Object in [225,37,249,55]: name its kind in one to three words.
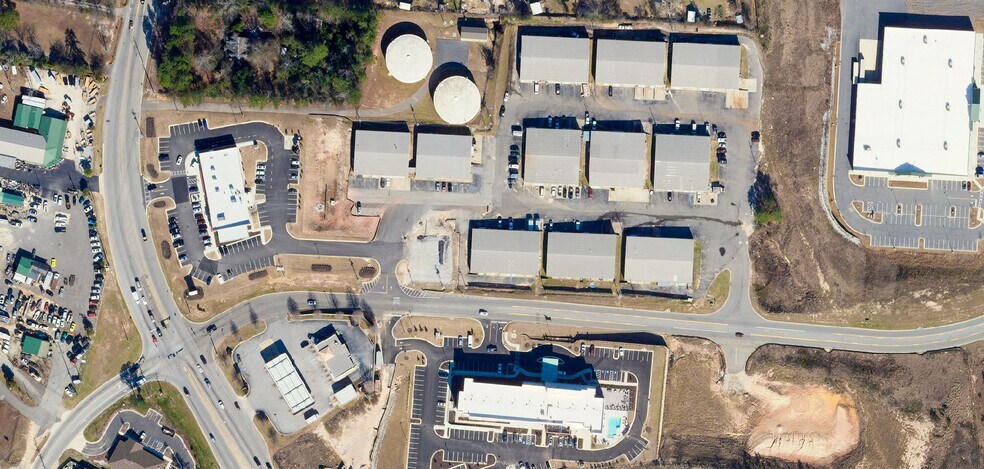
house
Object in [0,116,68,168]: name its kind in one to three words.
building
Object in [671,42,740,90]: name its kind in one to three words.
building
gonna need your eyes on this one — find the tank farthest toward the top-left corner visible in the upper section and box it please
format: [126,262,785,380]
[385,35,432,83]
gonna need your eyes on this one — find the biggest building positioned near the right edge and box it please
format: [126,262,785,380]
[851,26,983,177]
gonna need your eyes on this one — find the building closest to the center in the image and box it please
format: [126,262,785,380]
[470,229,542,277]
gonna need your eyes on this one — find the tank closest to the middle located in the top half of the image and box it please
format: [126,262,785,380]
[433,76,480,123]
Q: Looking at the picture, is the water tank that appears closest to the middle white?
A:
Yes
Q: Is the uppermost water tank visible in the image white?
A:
Yes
